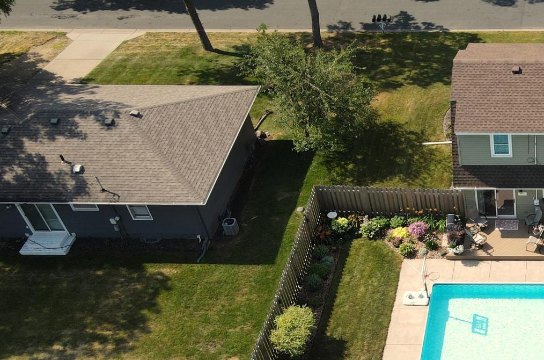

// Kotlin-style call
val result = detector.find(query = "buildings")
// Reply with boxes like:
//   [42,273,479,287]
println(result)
[422,43,544,219]
[0,84,266,261]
